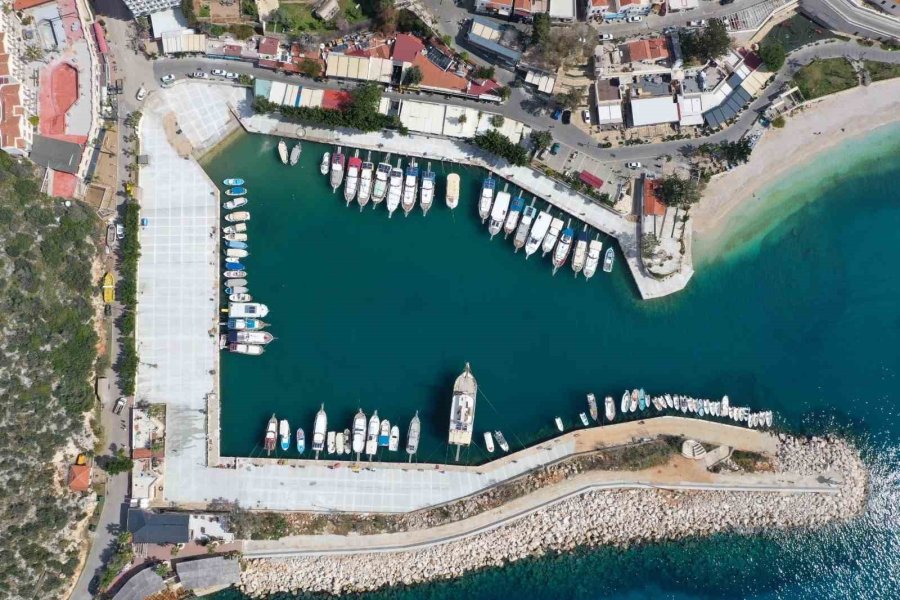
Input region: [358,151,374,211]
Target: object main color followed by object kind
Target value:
white boat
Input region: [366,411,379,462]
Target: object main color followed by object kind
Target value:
white boat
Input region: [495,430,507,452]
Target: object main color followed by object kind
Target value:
gray boat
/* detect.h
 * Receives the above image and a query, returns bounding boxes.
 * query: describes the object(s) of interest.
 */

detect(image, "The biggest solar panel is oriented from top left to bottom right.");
[422,46,452,71]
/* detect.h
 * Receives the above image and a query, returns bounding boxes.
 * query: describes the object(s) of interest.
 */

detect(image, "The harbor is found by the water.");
[134,79,693,515]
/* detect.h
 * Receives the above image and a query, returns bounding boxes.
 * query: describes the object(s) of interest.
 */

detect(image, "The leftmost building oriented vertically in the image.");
[0,32,49,155]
